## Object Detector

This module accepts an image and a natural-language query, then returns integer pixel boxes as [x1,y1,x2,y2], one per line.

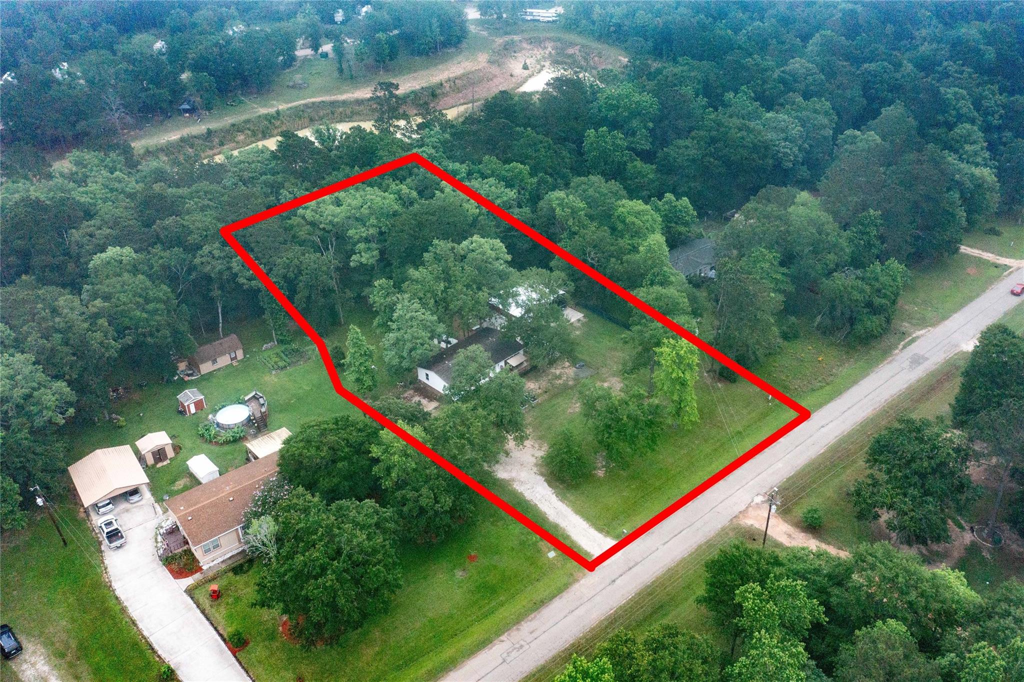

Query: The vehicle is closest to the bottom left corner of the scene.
[0,622,29,668]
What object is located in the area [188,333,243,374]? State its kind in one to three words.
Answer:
shed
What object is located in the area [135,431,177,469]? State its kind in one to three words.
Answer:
shed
